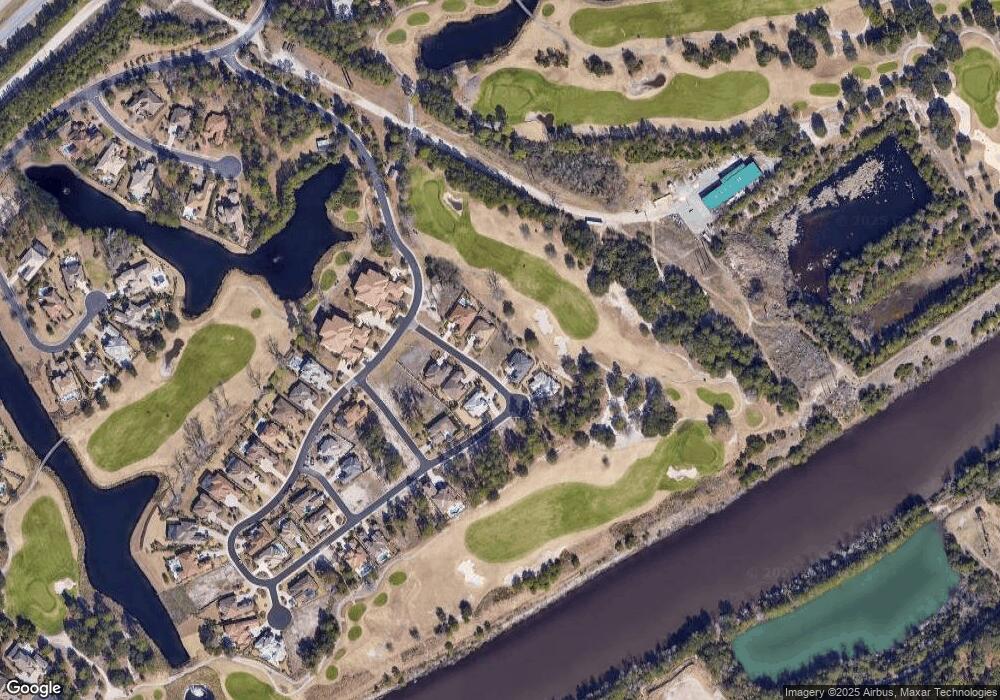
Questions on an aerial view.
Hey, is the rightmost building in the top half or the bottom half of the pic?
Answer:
top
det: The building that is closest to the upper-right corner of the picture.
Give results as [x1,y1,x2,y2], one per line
[702,161,763,211]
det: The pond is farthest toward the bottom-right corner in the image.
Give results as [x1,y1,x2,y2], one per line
[732,519,959,682]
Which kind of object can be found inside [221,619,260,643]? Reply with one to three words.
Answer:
house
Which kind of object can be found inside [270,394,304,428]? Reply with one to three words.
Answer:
house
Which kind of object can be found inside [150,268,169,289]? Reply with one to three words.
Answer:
swimming pool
